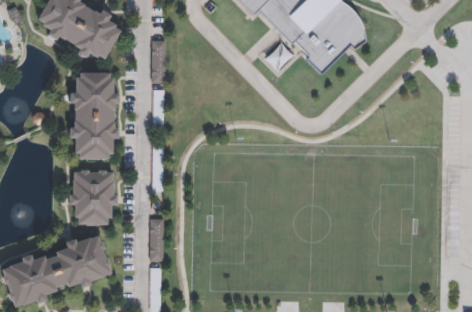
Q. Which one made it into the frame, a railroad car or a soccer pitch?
soccer pitch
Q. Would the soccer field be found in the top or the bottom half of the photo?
bottom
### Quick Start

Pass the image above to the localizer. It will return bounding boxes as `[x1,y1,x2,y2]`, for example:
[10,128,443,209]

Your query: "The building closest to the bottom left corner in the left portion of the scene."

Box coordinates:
[6,239,112,304]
